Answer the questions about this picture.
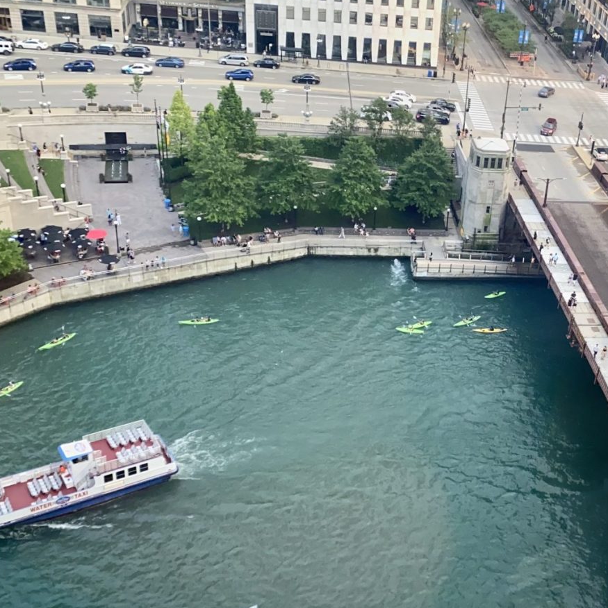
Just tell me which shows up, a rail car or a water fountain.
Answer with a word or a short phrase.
water fountain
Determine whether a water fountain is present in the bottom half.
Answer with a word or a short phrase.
No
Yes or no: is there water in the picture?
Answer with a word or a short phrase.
Yes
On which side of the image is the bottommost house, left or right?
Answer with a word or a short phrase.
right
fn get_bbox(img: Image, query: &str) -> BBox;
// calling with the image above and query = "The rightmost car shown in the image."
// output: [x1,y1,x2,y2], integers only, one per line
[591,148,608,161]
